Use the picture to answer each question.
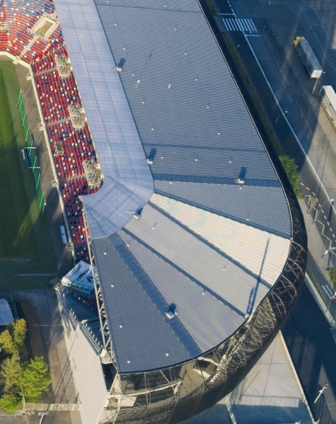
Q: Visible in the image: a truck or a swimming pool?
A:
truck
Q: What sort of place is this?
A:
sports ground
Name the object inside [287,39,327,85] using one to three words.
truck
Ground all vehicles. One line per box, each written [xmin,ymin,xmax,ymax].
[287,39,327,85]
[318,86,336,133]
